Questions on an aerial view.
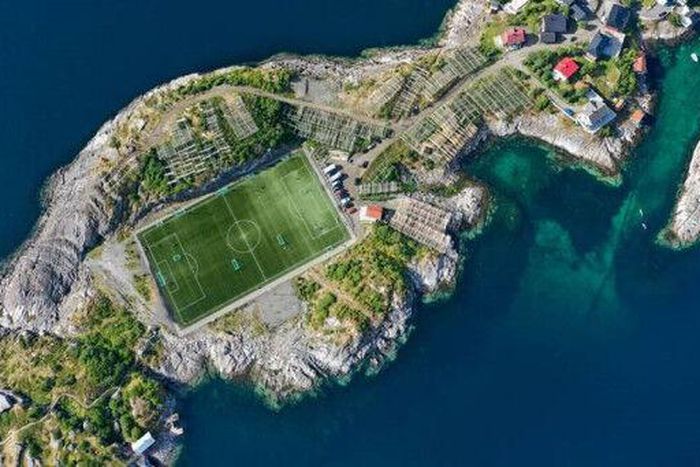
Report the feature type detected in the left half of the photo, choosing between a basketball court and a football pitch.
football pitch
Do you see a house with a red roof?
Yes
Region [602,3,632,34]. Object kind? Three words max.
house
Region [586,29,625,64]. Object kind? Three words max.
house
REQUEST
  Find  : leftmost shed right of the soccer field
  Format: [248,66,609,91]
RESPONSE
[360,206,382,222]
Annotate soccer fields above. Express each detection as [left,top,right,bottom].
[137,150,351,330]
